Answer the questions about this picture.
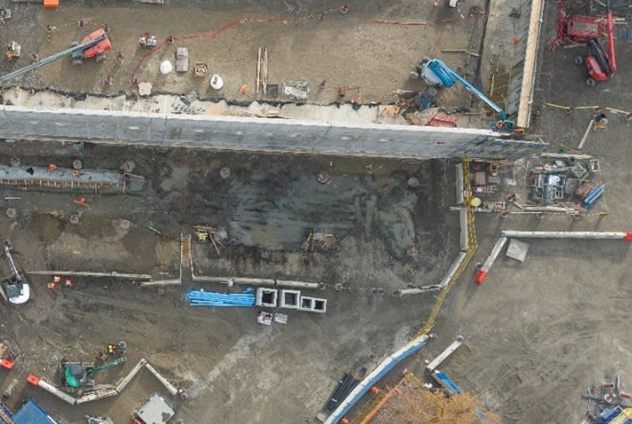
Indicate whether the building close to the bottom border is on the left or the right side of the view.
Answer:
left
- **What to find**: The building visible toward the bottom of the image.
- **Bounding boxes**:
[137,392,176,424]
